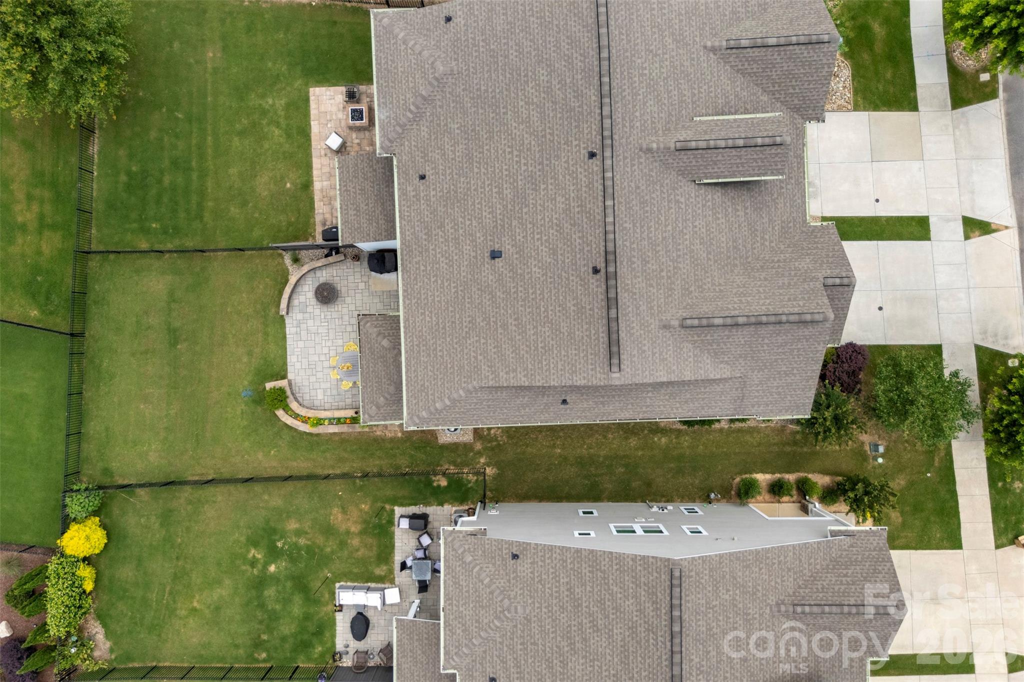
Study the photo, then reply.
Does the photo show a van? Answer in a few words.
No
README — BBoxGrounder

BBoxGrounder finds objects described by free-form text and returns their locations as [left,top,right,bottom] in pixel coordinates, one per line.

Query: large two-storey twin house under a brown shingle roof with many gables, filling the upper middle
[336,0,859,429]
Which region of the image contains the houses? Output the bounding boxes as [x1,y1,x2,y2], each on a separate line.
[336,0,859,429]
[394,497,907,682]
